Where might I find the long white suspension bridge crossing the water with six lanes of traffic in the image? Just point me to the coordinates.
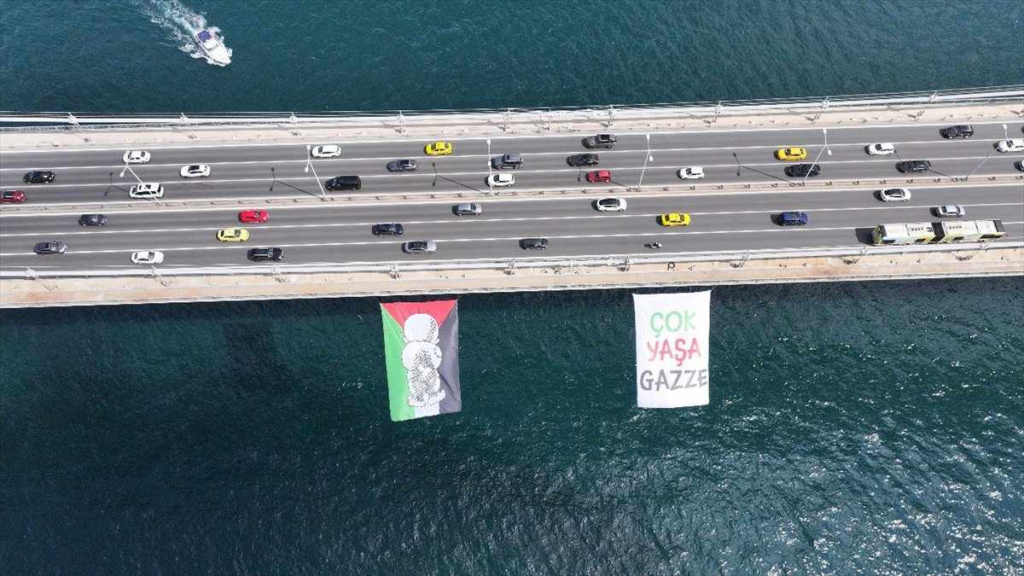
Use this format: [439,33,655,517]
[0,85,1024,309]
